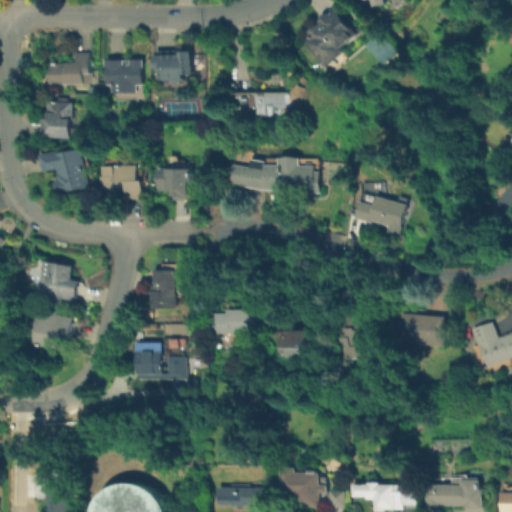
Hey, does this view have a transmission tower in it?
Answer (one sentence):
No, this view has no transmission tower in it.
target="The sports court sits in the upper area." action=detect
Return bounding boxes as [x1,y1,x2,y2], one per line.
[162,100,201,118]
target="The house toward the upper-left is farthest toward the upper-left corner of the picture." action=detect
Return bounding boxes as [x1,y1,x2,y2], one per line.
[46,48,96,86]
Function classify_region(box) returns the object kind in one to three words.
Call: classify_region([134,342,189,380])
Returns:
house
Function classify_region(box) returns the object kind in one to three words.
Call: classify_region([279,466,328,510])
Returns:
house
